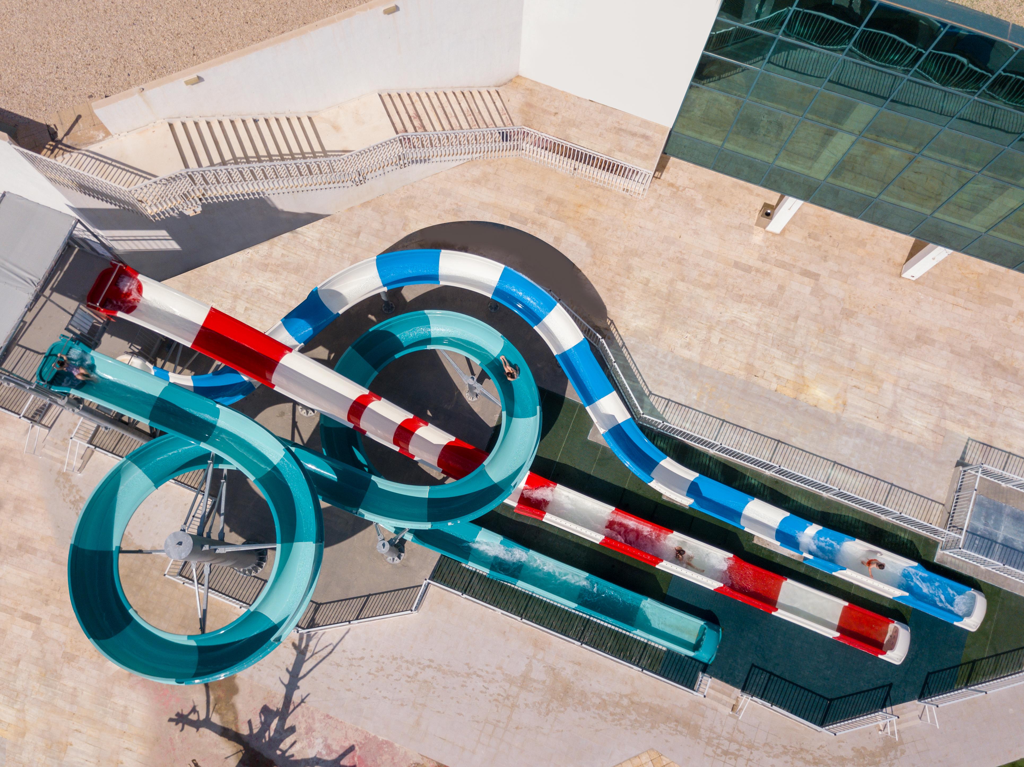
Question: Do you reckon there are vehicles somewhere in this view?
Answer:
No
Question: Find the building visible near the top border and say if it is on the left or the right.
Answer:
right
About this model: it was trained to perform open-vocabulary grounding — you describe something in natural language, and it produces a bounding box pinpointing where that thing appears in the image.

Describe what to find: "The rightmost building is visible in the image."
[518,0,1024,282]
